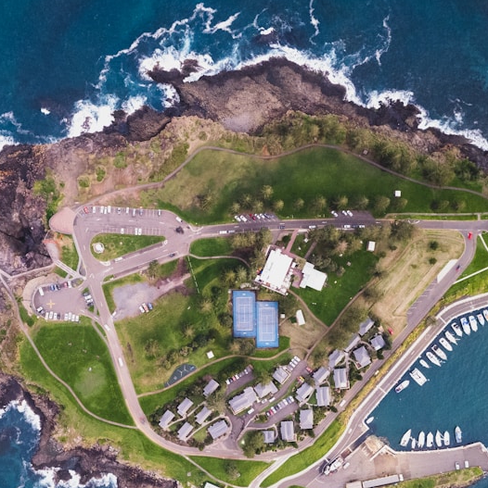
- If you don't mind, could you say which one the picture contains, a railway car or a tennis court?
tennis court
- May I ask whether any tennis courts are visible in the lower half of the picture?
Yes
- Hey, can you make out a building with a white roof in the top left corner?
No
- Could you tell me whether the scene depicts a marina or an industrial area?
marina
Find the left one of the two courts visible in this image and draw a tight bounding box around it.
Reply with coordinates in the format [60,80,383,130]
[233,290,256,338]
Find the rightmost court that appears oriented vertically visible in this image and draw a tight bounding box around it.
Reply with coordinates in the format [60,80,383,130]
[256,301,279,349]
